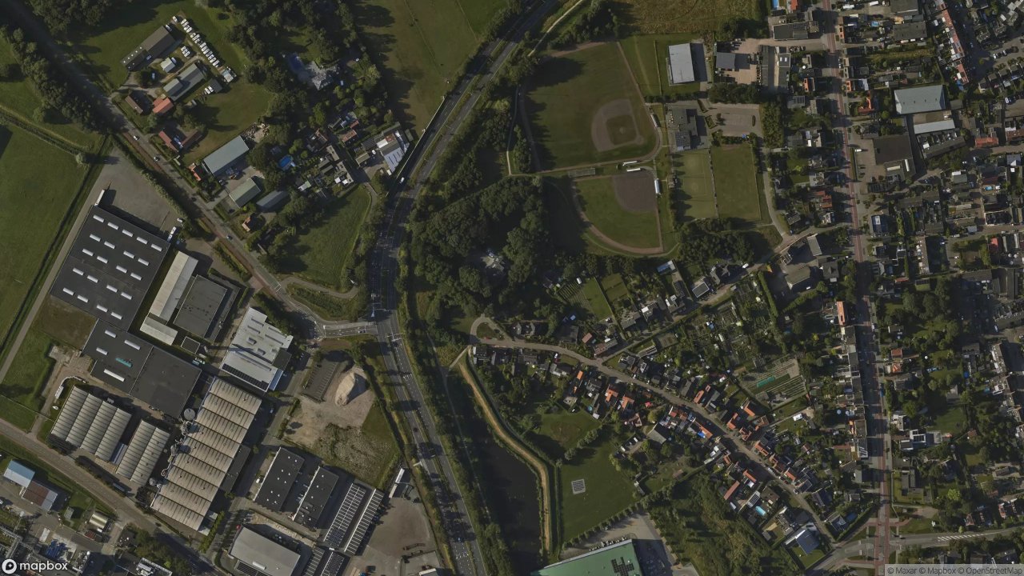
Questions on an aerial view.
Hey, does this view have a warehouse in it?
Yes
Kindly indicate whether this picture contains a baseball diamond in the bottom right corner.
No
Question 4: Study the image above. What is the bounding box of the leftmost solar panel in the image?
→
[225,364,268,390]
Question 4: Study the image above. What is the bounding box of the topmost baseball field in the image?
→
[522,40,662,173]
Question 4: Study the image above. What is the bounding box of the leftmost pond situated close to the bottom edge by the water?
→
[448,370,542,576]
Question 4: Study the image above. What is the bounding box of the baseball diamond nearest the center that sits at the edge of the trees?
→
[571,171,665,253]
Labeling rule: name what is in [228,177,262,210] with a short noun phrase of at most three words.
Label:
barn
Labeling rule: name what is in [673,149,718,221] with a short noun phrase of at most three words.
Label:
sports field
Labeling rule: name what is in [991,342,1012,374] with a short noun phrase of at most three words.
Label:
house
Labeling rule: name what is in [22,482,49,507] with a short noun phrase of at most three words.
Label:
building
